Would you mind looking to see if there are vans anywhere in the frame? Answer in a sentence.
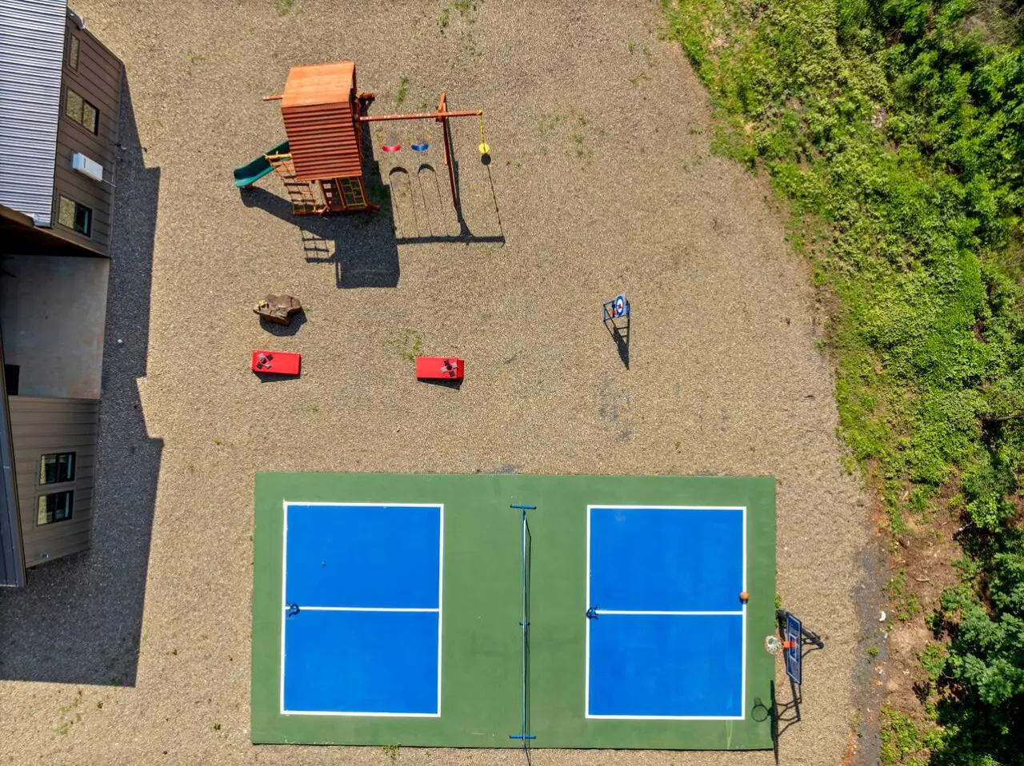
No, I can't see a single van in this photo.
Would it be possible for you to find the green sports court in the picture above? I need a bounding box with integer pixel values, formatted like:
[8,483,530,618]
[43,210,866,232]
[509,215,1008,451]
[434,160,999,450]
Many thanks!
[250,472,777,751]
